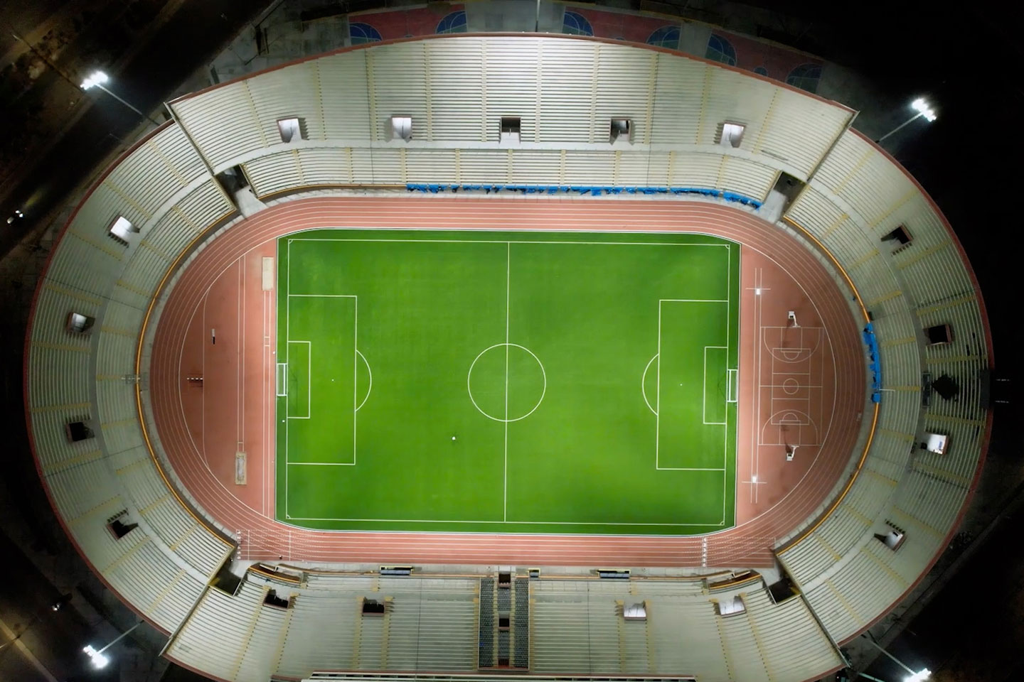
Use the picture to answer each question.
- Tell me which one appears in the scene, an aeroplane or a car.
car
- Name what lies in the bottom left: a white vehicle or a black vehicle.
black vehicle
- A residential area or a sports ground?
sports ground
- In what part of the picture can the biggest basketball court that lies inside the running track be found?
right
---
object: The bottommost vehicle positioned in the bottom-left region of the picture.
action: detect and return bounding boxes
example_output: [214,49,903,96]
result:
[51,595,70,611]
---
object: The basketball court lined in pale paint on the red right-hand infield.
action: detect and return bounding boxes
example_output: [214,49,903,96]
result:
[759,327,823,446]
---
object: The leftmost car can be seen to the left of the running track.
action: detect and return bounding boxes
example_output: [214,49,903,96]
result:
[2,208,21,225]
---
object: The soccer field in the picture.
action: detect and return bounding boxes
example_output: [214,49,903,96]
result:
[275,232,740,534]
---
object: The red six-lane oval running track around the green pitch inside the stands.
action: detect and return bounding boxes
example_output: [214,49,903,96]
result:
[149,199,867,568]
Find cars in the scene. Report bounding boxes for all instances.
[2,208,21,225]
[51,595,70,611]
